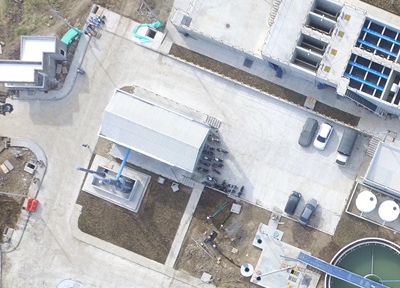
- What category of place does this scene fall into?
industrial area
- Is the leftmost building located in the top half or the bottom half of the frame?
top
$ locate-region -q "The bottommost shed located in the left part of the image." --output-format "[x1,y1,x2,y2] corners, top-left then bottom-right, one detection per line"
[98,89,211,175]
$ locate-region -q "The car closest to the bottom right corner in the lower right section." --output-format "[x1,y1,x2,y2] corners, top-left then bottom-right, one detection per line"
[297,198,318,228]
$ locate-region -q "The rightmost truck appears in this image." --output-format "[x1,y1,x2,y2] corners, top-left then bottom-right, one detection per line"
[332,123,359,167]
